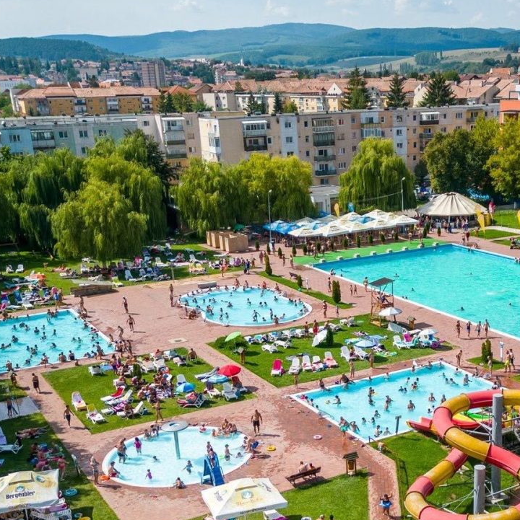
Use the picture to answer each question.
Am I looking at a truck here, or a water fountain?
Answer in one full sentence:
It is a water fountain that can be seen here.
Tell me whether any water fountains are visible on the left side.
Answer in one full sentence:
Yes, you'll find a water fountain on the left side.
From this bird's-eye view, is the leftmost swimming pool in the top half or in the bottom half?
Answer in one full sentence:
You can find the leftmost swimming pool in the bottom half.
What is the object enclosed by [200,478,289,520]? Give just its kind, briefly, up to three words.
umbrella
